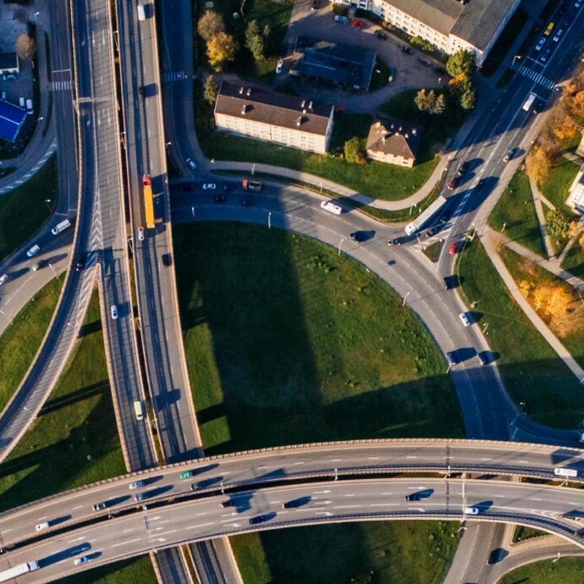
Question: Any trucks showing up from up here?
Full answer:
Yes, a truck appears in the view.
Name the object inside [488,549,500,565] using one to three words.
vehicle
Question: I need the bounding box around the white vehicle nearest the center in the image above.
[322,202,343,215]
